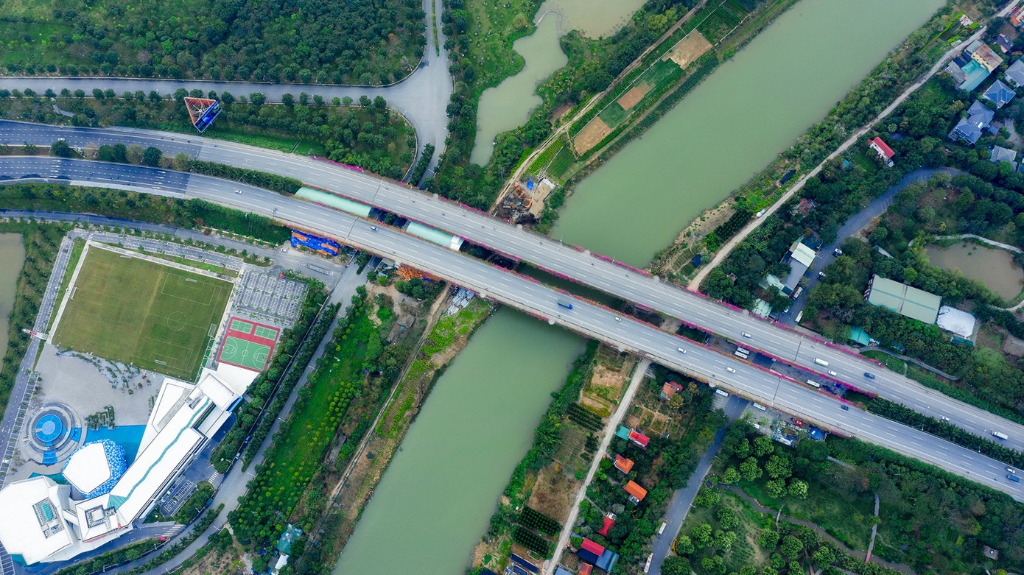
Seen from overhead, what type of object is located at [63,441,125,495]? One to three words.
building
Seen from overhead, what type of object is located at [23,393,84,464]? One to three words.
fountain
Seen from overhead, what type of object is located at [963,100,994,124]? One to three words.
house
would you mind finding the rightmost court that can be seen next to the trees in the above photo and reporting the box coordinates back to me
[217,316,280,371]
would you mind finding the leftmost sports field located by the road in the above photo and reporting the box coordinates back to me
[47,241,239,383]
